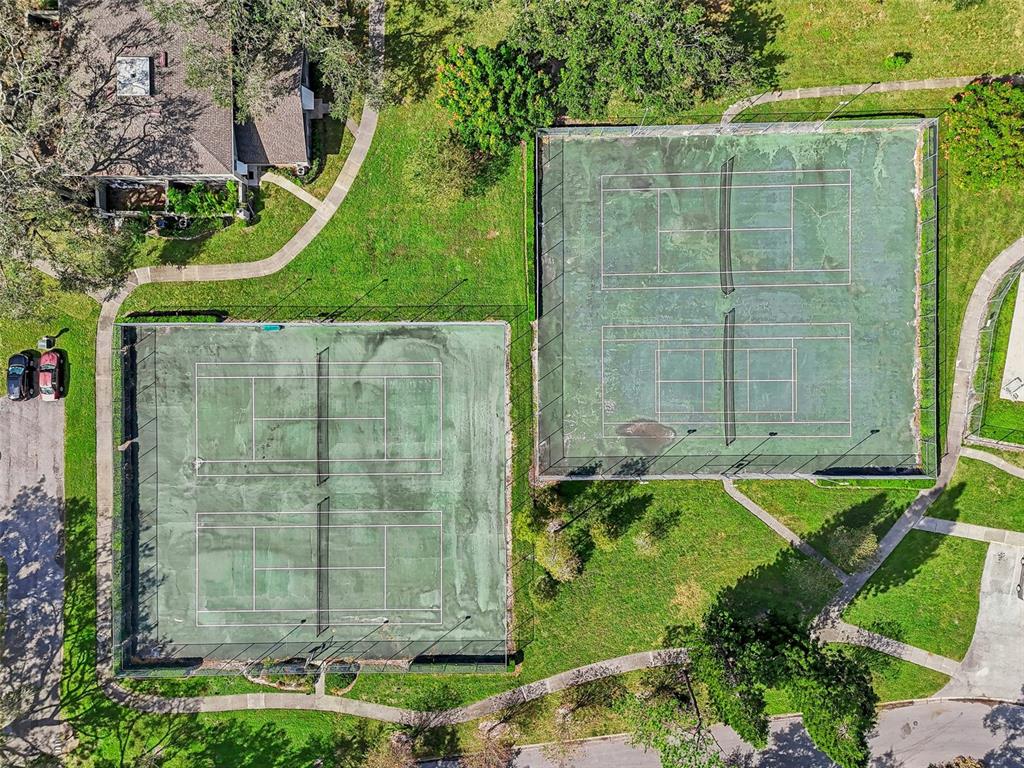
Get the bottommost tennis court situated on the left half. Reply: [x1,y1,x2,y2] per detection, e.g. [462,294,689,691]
[131,493,508,661]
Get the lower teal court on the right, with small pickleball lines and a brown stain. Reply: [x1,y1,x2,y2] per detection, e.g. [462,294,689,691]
[538,303,917,475]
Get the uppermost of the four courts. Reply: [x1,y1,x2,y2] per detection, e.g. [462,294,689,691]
[538,129,917,307]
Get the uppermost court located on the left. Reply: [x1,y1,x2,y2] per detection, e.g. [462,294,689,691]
[131,323,507,496]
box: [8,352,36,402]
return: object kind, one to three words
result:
car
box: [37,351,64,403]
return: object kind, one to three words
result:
car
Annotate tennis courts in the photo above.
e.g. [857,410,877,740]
[538,303,917,475]
[131,493,508,661]
[131,323,507,496]
[538,129,917,307]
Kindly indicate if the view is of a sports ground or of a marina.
sports ground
